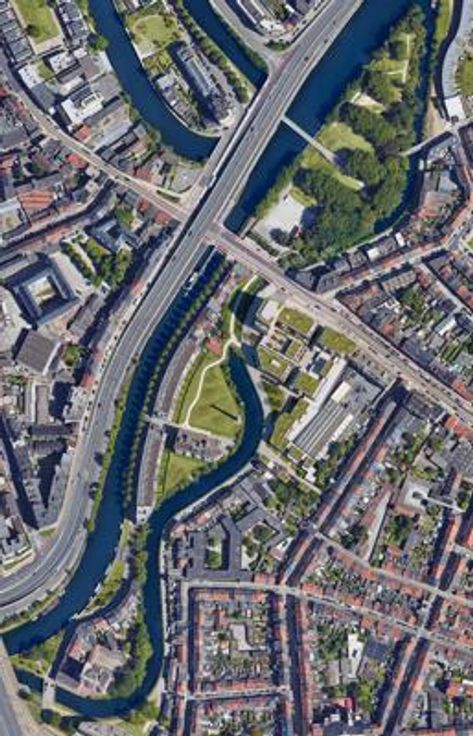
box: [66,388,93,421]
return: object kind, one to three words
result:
building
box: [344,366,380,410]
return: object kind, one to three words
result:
building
